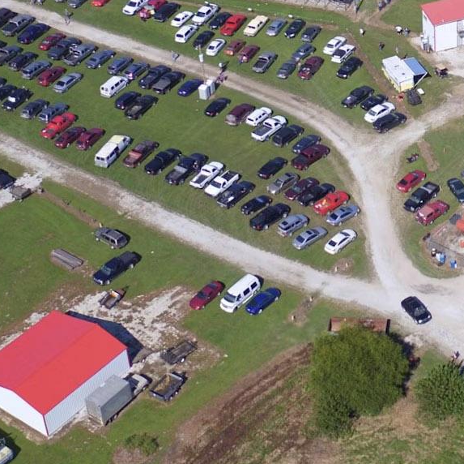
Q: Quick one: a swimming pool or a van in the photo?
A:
van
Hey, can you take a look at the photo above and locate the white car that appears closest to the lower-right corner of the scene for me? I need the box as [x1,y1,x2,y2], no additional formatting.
[325,229,357,255]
